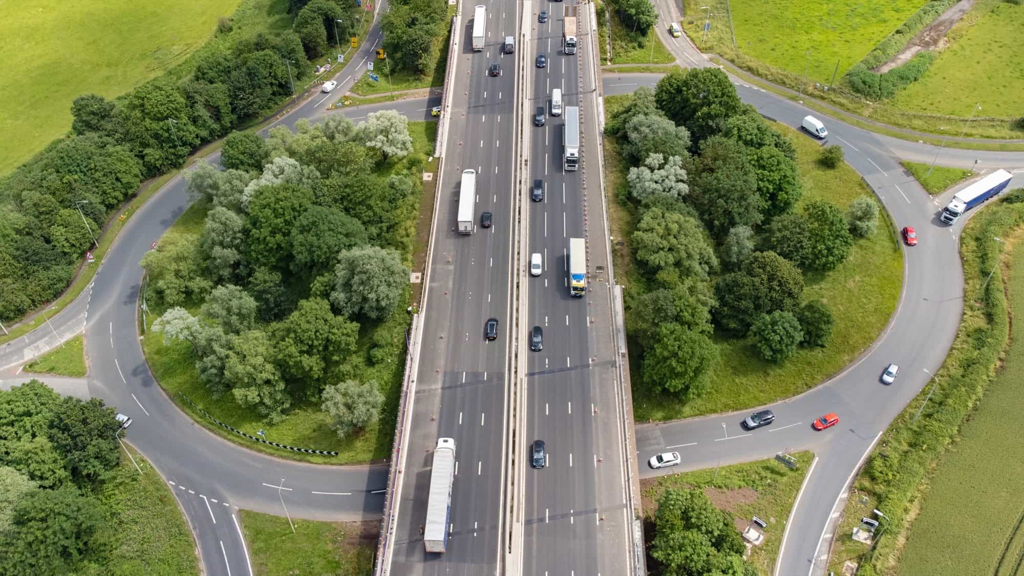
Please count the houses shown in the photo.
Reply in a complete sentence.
Not a single house can be seen.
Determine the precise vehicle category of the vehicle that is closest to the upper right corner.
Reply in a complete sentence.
From above, the vehicle that is closest to the upper right corner can be identified as a truck.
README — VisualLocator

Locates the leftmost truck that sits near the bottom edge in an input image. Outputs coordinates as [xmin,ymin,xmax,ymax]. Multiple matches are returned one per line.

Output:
[425,437,457,555]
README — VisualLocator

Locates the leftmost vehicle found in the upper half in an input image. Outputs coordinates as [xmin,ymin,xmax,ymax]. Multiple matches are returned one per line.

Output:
[320,80,340,95]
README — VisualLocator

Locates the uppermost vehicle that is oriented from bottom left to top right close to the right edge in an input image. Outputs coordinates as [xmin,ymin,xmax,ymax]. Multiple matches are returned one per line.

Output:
[943,172,1007,226]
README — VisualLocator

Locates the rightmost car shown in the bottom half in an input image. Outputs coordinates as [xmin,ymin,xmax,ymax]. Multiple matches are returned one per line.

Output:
[880,362,899,385]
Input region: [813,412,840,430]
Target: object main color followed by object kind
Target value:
red car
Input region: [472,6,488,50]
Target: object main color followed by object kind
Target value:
white vehicle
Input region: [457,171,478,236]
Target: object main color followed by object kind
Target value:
white truck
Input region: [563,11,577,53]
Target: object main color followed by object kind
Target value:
white vehicle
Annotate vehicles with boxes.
[880,362,899,385]
[801,112,826,138]
[563,11,577,53]
[943,172,1007,226]
[903,227,917,244]
[425,437,457,555]
[539,10,548,22]
[536,53,546,67]
[457,171,478,236]
[813,412,840,430]
[534,107,545,125]
[320,80,340,95]
[743,408,776,429]
[531,180,543,199]
[529,250,543,276]
[568,237,587,297]
[564,105,581,170]
[472,6,488,50]
[485,318,499,341]
[649,451,683,469]
[481,210,493,228]
[530,438,546,470]
[504,38,515,53]
[550,88,563,114]
[490,63,500,76]
[530,325,544,352]
[670,22,681,35]
[111,410,134,431]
